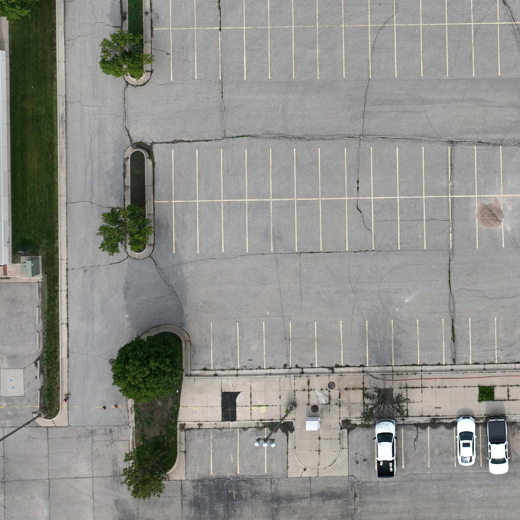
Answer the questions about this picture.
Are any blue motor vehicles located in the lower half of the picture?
No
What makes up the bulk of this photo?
paved ground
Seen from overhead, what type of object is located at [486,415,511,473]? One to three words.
truck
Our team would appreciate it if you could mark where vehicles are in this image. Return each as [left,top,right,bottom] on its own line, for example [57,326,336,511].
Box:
[486,415,511,473]
[372,417,399,478]
[454,415,478,465]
